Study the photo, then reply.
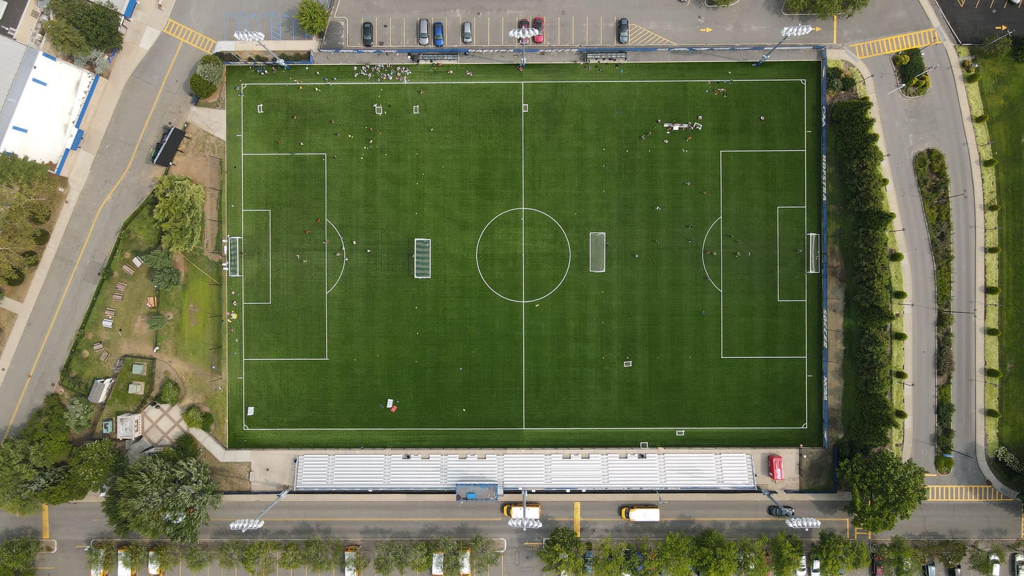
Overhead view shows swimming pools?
No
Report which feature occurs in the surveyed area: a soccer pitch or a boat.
soccer pitch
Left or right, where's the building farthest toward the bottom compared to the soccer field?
to the left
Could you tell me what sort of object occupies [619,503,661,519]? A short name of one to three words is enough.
vehicle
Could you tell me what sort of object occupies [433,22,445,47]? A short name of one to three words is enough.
vehicle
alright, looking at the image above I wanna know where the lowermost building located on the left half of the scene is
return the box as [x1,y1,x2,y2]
[109,414,142,443]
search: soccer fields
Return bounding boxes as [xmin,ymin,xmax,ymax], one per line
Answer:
[225,60,824,450]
